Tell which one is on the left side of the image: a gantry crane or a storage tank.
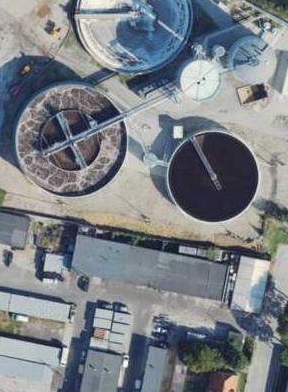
storage tank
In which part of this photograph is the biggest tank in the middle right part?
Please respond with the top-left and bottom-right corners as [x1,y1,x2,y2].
[167,130,260,223]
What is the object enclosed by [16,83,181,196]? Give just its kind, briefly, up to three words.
storage tank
